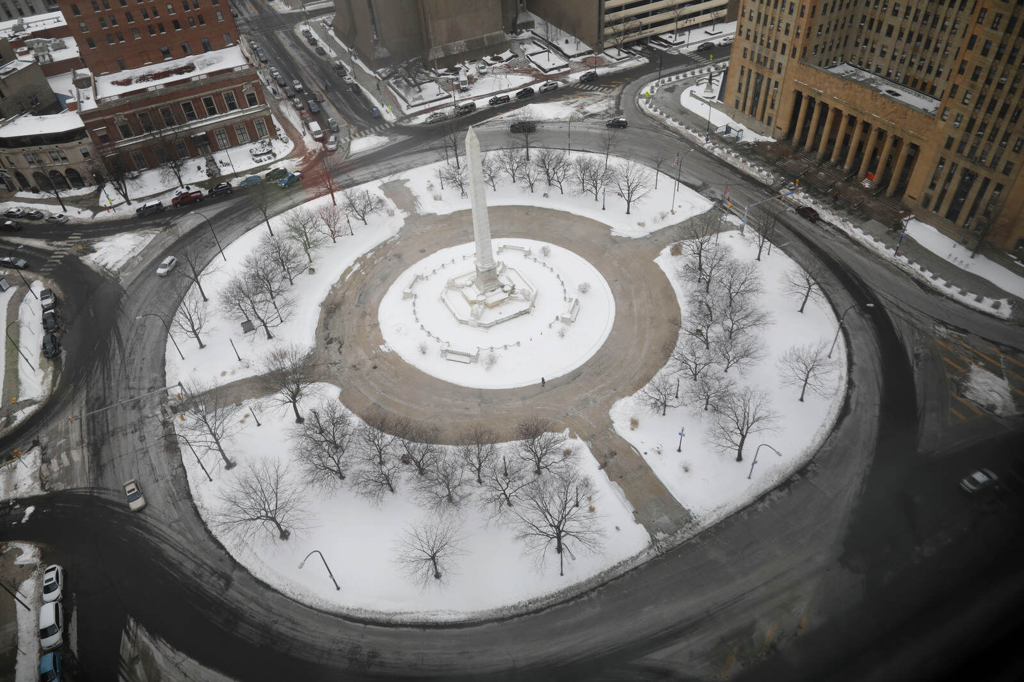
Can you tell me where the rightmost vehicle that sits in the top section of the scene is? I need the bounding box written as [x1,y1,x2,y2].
[795,200,822,221]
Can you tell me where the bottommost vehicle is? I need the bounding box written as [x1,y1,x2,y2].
[34,642,61,682]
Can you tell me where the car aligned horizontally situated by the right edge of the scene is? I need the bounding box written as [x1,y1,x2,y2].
[958,466,1004,492]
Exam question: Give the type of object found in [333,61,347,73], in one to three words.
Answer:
vehicle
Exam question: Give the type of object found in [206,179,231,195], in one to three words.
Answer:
car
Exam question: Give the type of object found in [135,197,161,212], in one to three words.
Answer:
car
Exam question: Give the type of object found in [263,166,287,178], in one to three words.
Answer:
vehicle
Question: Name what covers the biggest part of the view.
paved ground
